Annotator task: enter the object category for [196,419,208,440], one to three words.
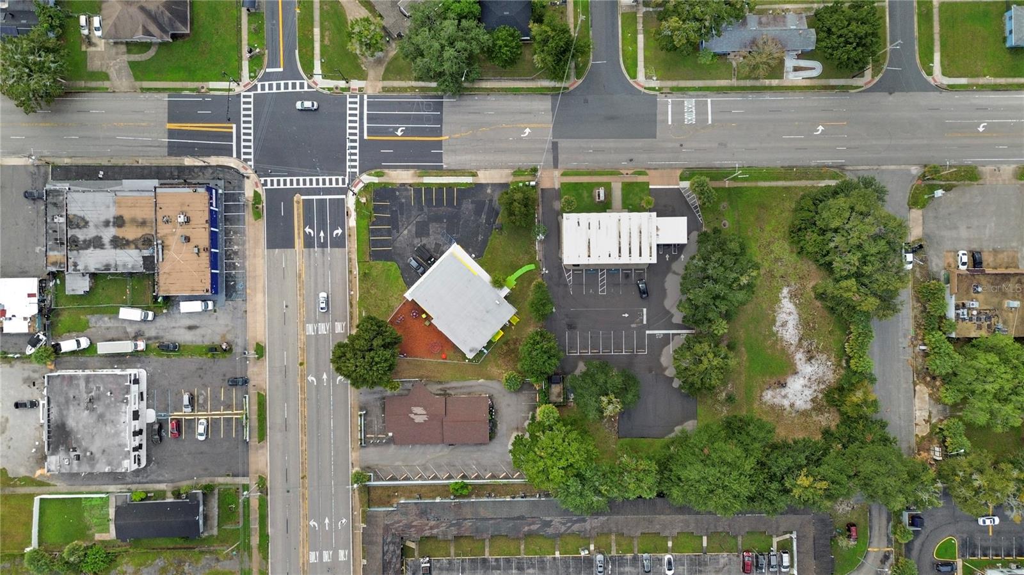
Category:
vehicle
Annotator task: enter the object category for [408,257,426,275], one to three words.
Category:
car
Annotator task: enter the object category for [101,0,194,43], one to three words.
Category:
house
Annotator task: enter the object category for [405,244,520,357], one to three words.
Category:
building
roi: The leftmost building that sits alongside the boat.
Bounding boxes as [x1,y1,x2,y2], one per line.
[0,277,44,333]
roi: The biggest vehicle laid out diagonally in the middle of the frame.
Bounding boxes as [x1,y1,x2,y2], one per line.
[414,241,439,265]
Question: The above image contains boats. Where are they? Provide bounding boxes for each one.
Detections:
[23,332,44,355]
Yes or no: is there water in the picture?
No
